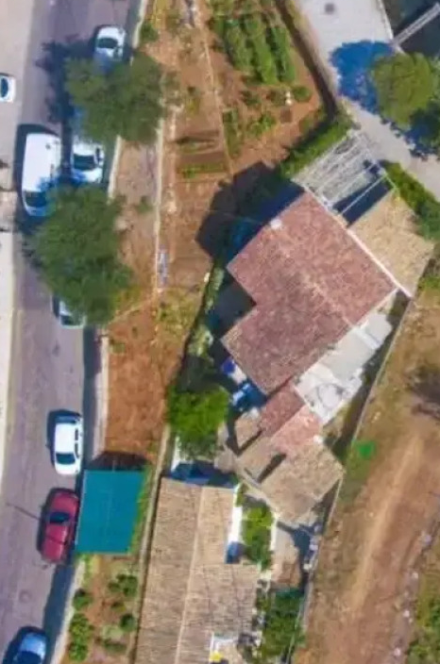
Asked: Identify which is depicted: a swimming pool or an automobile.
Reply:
automobile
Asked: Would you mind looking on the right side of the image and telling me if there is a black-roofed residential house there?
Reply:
No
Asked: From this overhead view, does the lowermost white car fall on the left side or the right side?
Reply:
left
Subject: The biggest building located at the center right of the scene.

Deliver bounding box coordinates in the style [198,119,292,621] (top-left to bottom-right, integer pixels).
[226,190,427,392]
